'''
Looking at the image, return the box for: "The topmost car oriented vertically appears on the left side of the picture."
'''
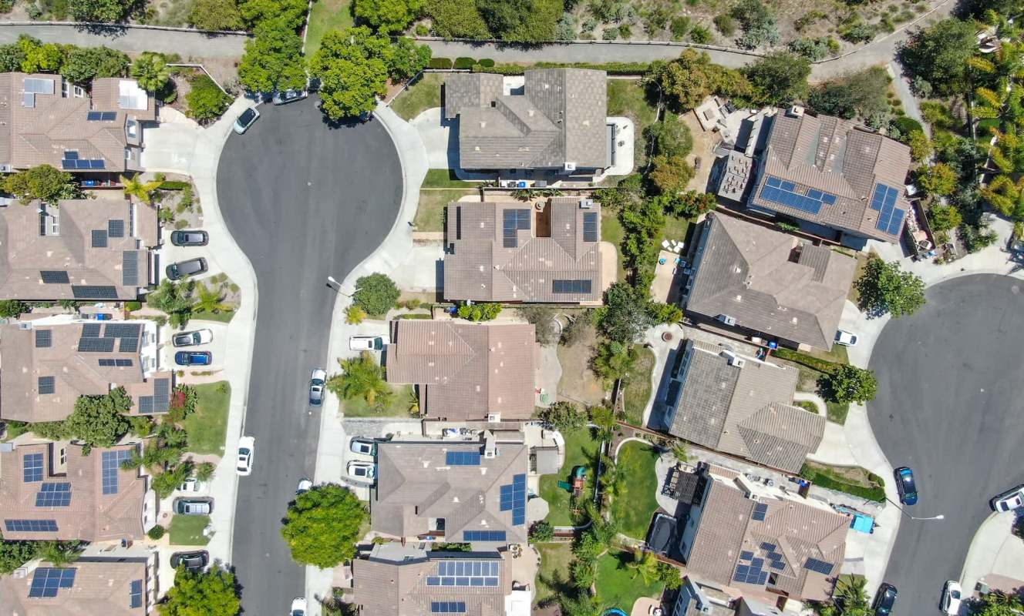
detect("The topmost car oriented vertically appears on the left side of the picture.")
[309,368,327,405]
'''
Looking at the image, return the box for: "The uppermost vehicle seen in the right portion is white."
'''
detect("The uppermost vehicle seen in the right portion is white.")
[832,329,861,347]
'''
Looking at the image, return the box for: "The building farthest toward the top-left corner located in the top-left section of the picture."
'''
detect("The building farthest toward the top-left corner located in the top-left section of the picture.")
[0,66,163,175]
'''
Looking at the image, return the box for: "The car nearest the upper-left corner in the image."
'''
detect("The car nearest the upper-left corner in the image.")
[233,103,262,137]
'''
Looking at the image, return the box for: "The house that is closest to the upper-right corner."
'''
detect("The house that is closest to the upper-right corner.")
[743,105,913,241]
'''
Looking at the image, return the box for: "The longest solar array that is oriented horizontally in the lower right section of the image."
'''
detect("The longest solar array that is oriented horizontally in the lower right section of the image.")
[804,558,835,574]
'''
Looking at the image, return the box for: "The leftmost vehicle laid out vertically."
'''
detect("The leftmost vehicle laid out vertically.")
[237,436,255,474]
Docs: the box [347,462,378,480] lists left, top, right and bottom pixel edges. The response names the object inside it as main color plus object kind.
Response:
white car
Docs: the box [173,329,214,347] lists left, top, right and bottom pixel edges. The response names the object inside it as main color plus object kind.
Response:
white car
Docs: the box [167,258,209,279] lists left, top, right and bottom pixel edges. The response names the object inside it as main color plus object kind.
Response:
gray car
